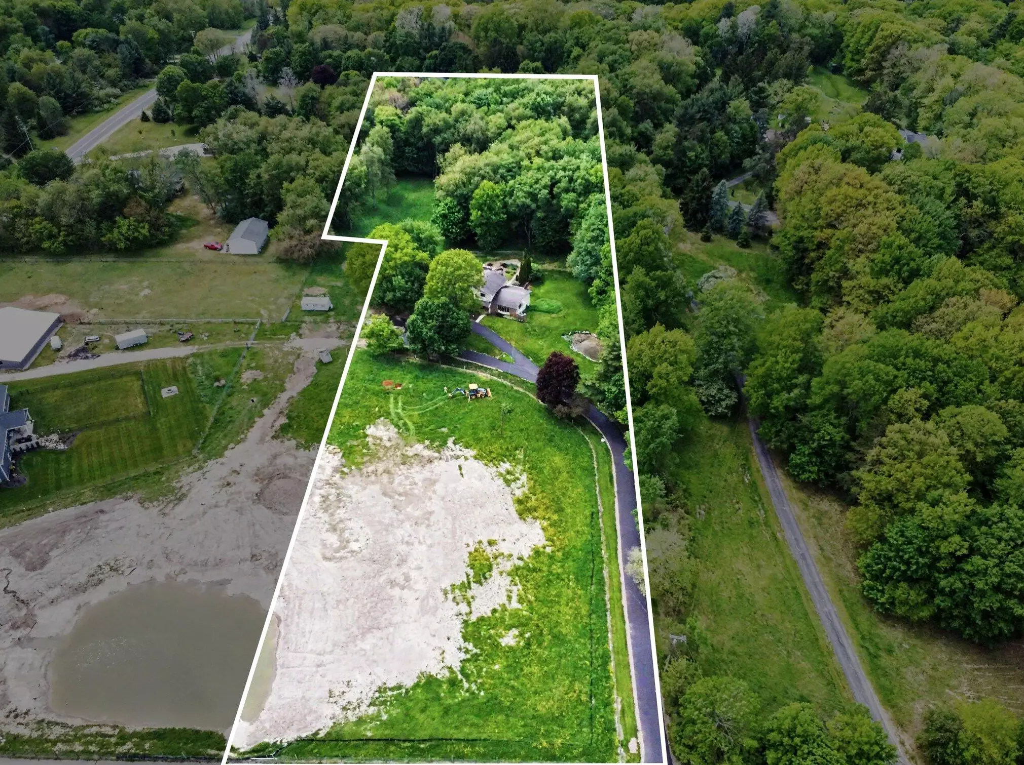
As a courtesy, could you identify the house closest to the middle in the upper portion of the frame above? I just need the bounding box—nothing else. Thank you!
[466,270,532,325]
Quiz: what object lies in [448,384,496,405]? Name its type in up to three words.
work vehicle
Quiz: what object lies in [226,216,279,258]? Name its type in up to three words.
shed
